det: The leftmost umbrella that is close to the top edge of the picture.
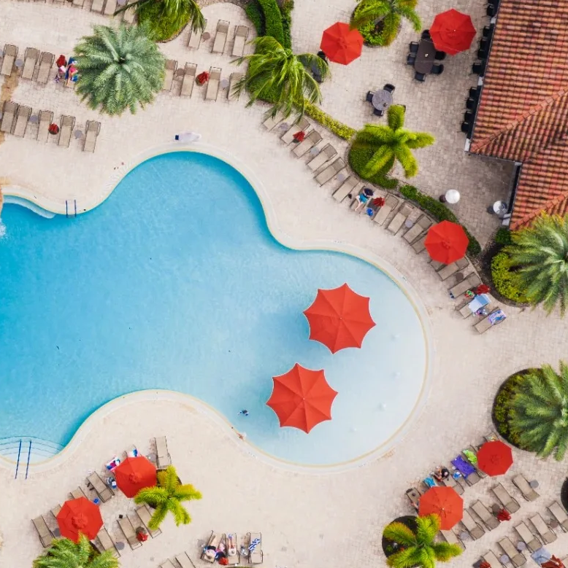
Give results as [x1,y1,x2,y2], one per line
[321,23,363,65]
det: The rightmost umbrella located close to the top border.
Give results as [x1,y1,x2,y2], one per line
[428,9,474,55]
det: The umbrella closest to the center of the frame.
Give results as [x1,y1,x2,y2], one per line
[302,281,376,356]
